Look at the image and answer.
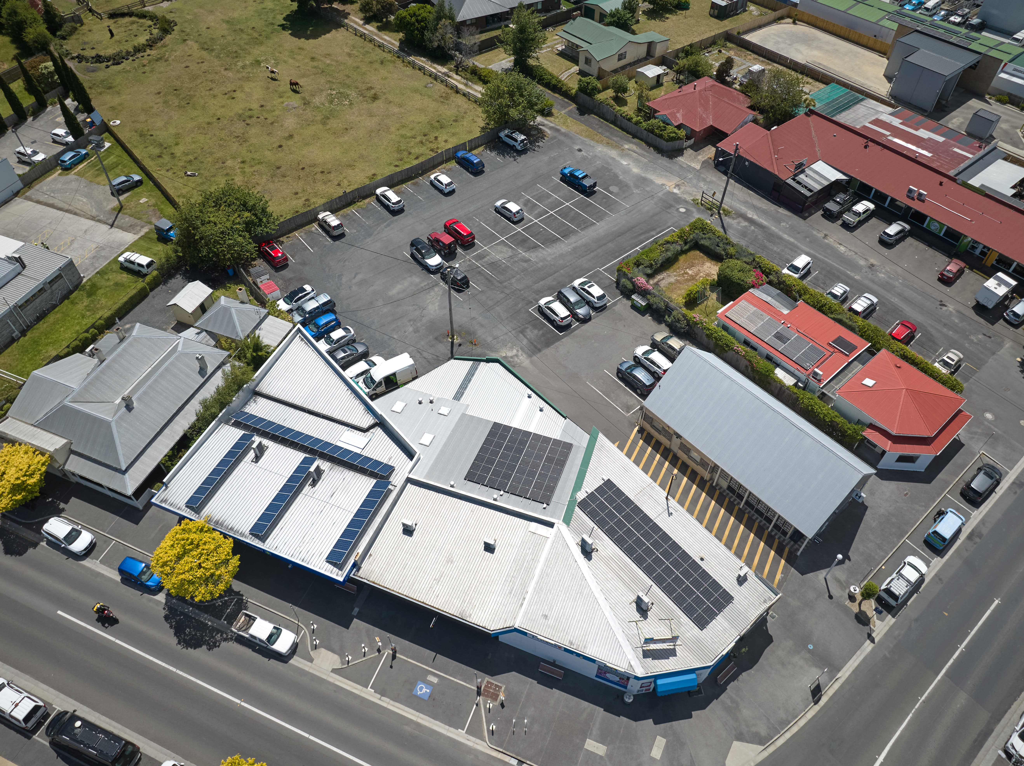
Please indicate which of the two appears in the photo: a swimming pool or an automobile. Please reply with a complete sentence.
The image shows an automobile.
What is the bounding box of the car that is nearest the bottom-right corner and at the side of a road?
[994,705,1024,764]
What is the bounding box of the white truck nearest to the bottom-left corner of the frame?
[0,676,52,736]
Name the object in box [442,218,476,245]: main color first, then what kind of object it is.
red car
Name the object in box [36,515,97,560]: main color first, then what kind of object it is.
white car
